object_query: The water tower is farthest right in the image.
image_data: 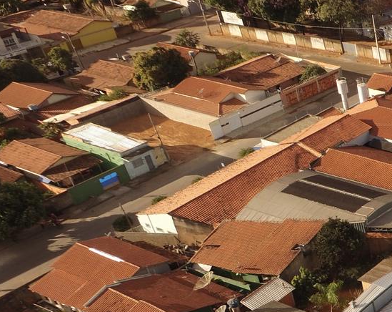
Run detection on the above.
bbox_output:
[355,69,372,104]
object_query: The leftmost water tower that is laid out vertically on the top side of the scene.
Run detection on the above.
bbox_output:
[333,66,348,106]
